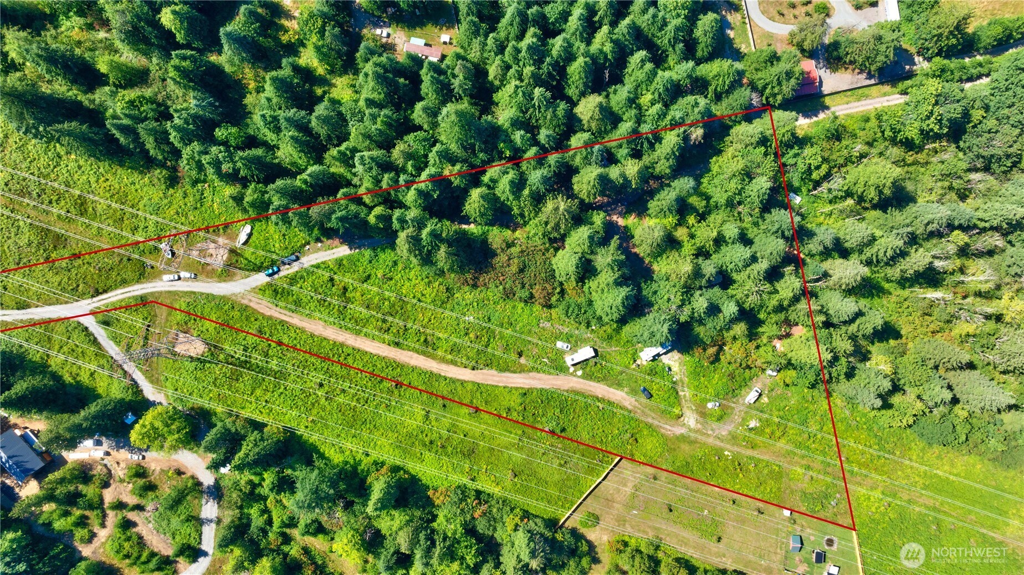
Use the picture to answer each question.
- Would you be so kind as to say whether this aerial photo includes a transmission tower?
Yes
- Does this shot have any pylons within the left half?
Yes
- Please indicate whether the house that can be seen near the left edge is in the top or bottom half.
bottom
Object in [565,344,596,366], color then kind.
white camper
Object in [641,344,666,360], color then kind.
white vehicle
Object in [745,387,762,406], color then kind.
white vehicle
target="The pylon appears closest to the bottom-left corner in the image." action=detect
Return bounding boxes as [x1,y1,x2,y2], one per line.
[119,322,208,385]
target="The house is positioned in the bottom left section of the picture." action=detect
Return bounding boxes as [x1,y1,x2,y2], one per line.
[0,422,52,482]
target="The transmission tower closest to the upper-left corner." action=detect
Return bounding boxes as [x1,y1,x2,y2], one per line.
[157,221,229,276]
